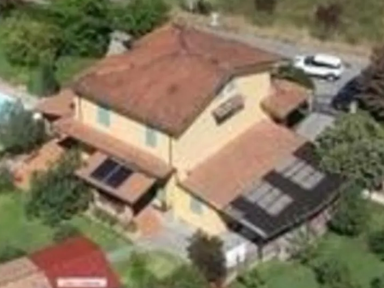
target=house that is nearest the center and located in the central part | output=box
[34,28,310,239]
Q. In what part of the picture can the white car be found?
top right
